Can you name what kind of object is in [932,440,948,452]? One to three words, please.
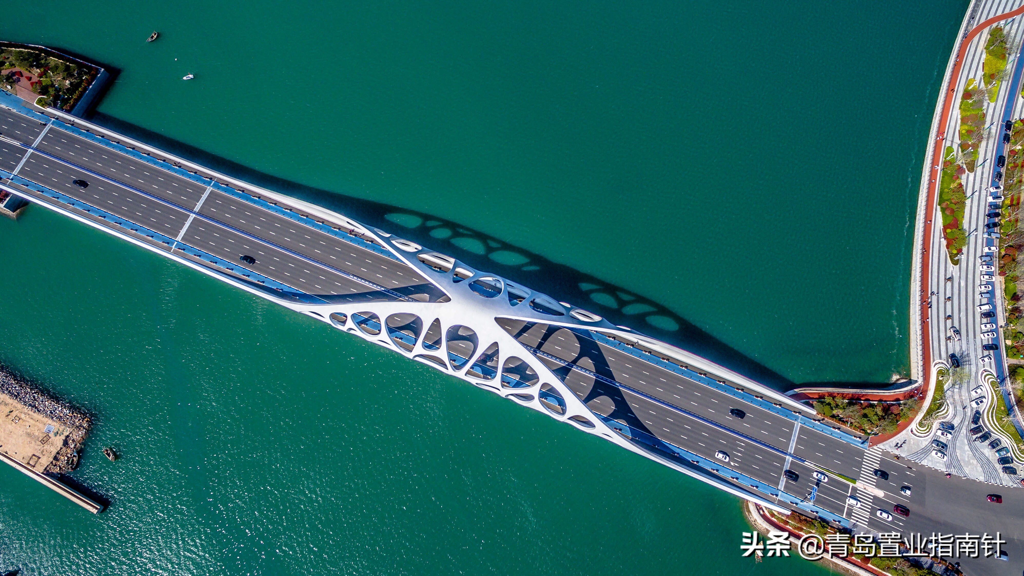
vehicle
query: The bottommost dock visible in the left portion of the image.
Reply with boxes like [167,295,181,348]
[0,449,111,513]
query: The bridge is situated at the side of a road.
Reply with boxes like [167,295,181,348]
[0,102,869,527]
